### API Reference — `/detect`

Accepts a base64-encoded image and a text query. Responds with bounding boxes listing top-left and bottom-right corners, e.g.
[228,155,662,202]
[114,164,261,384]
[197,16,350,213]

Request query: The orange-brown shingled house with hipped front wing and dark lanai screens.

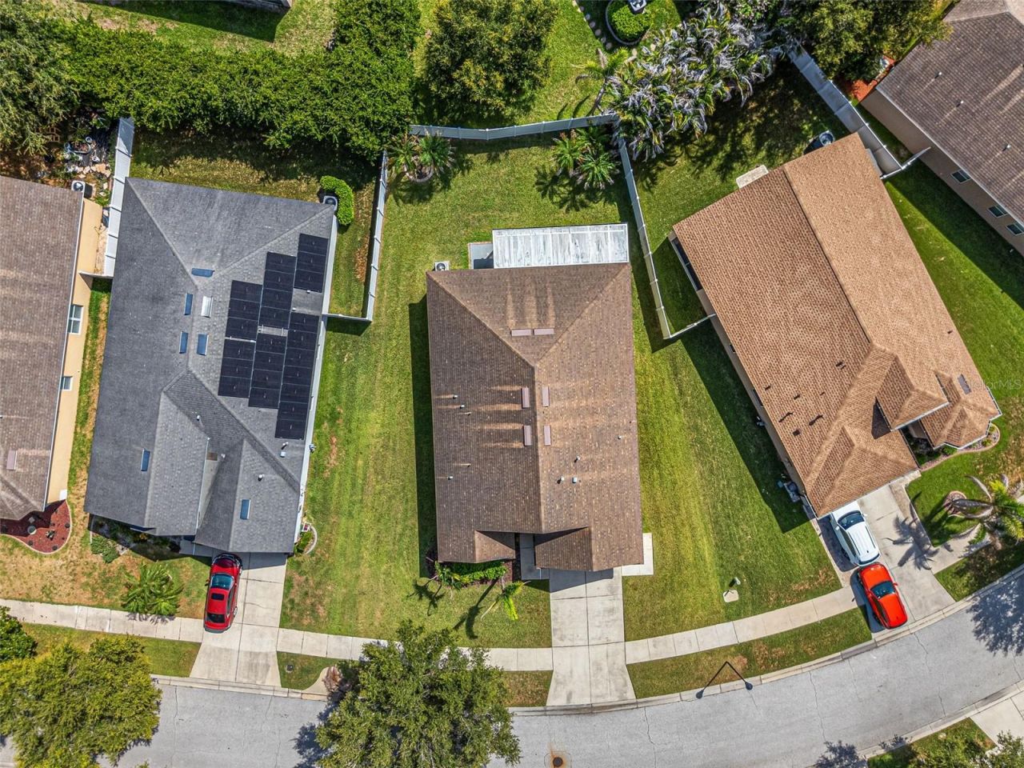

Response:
[672,134,1001,519]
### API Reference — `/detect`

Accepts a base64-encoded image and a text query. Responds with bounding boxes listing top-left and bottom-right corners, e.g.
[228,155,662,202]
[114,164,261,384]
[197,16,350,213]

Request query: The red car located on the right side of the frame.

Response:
[858,561,911,632]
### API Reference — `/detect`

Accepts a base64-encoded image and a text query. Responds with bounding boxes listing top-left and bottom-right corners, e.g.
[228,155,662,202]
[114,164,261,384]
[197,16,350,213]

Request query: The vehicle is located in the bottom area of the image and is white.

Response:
[830,499,884,566]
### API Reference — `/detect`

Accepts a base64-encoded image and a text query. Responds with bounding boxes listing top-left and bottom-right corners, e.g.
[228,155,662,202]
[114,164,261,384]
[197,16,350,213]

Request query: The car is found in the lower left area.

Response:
[203,551,243,633]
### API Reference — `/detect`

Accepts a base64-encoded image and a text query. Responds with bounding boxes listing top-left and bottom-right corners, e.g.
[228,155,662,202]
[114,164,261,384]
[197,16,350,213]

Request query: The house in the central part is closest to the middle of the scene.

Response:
[425,262,642,571]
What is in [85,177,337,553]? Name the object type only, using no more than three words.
house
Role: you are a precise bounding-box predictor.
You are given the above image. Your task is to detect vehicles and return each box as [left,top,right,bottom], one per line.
[858,561,911,632]
[203,551,243,633]
[830,499,884,566]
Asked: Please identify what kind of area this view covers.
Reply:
residential area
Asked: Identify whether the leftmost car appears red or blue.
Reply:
red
